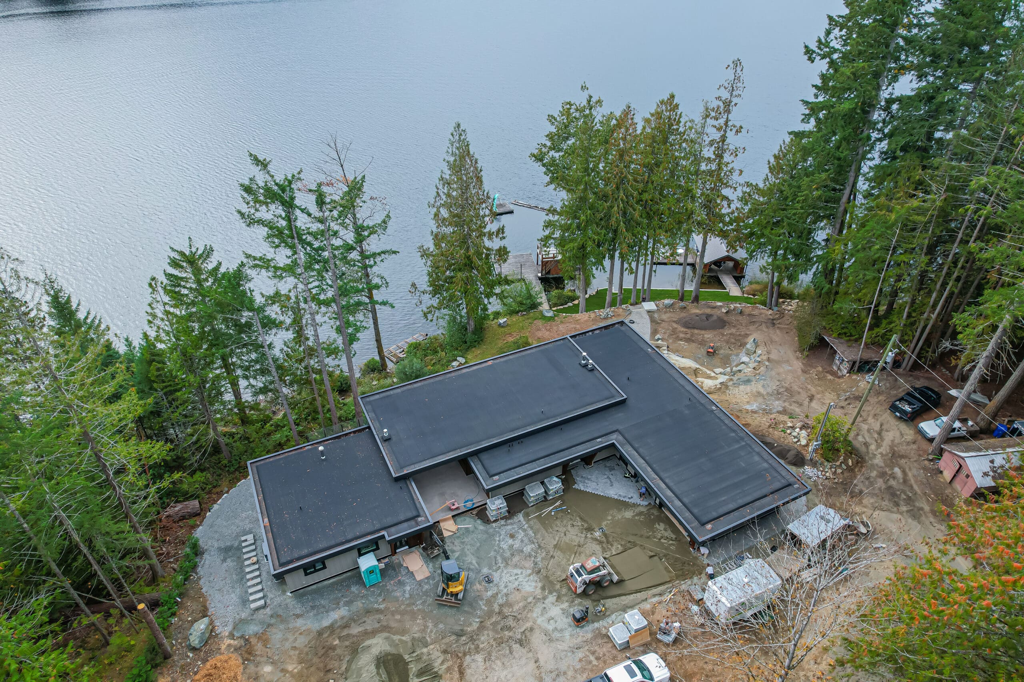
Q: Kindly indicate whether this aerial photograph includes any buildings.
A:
Yes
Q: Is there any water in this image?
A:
Yes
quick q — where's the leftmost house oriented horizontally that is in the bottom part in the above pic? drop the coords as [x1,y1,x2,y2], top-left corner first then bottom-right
[248,315,812,594]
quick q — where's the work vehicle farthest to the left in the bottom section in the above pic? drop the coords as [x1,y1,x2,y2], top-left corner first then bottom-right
[435,527,470,611]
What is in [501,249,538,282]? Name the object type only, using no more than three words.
pier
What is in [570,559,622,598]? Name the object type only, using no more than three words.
work vehicle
